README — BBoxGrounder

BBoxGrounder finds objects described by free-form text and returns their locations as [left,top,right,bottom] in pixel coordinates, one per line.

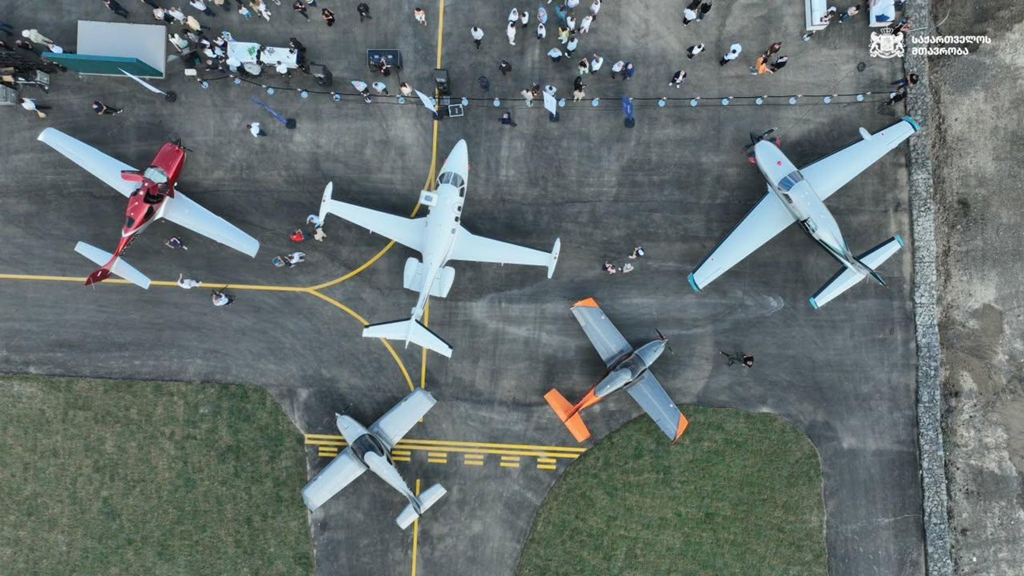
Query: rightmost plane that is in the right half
[688,117,920,308]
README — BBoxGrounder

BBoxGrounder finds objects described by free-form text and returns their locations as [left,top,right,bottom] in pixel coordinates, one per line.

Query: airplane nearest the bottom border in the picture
[303,388,445,533]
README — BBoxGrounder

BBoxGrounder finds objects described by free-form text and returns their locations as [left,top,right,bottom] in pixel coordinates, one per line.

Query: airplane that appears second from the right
[546,298,688,443]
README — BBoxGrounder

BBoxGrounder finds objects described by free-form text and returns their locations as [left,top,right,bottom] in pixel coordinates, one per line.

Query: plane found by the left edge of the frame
[37,127,261,287]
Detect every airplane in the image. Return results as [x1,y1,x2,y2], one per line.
[320,138,560,357]
[303,388,445,533]
[688,117,920,308]
[546,298,688,443]
[37,127,261,287]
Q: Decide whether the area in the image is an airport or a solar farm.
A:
airport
